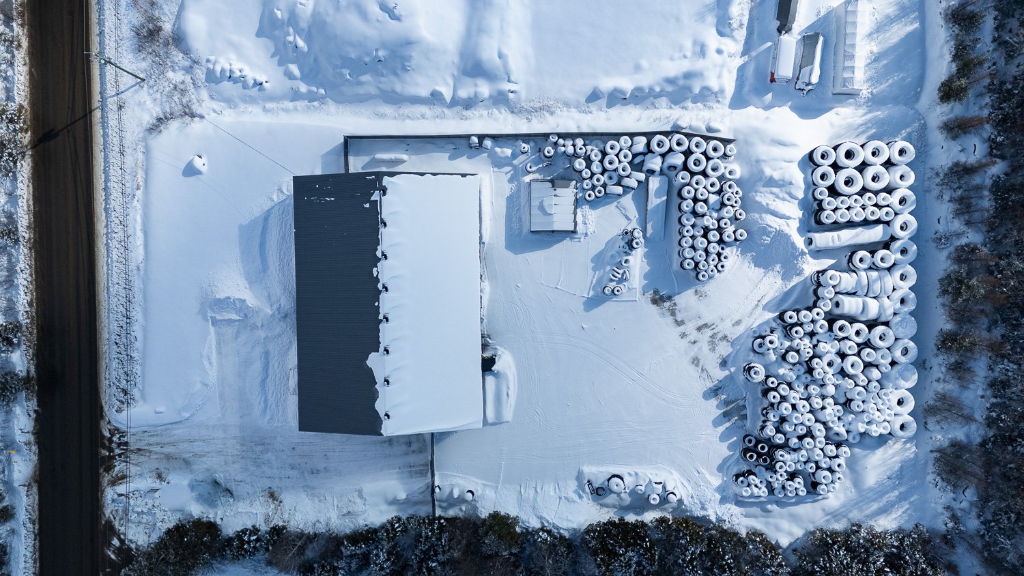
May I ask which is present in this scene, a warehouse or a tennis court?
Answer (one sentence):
Looking from above, you can make out a warehouse.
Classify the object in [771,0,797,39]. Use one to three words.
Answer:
trailer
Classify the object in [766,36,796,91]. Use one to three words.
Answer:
truck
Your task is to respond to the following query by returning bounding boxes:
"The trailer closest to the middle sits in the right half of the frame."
[645,171,668,241]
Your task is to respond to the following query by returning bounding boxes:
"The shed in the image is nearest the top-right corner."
[531,179,577,232]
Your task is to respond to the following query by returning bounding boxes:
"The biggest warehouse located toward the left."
[293,170,483,437]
